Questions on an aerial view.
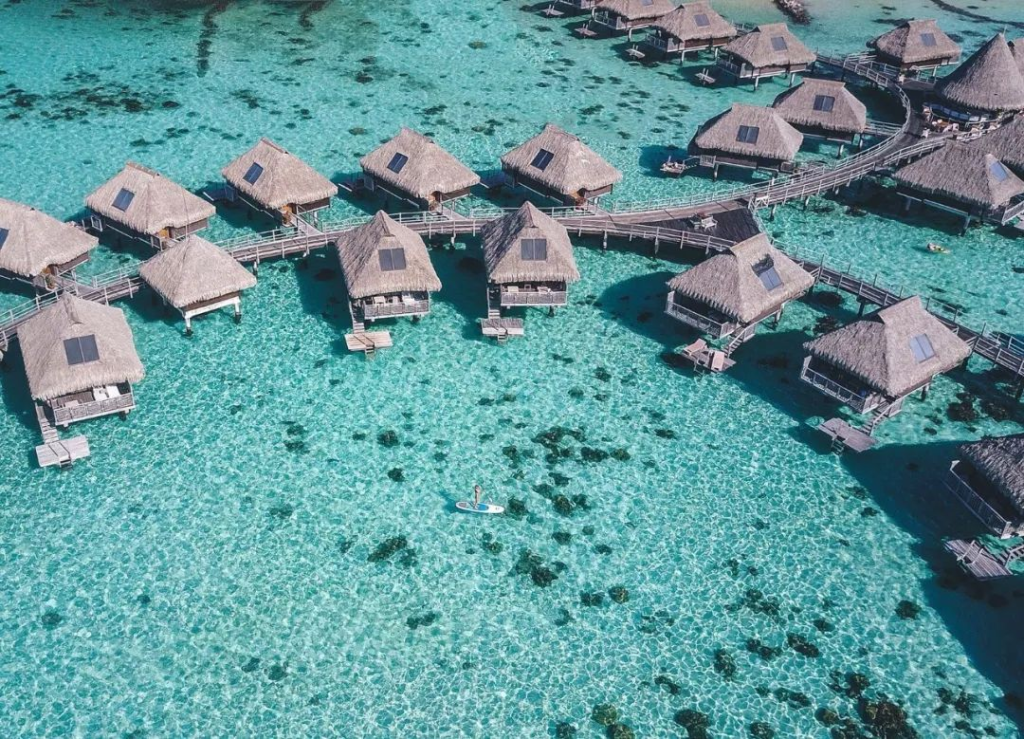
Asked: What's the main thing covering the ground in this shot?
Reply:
water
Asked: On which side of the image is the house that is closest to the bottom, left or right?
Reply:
right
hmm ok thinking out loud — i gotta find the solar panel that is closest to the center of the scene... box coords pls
[521,240,546,261]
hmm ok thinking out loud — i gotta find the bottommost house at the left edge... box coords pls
[17,292,150,469]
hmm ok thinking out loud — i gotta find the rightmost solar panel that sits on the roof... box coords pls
[994,163,1015,185]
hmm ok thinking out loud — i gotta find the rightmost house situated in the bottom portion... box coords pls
[945,432,1024,577]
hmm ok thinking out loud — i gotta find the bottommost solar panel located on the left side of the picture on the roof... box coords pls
[65,336,102,367]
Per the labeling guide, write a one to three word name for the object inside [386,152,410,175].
solar panel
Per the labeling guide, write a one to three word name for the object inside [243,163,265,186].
solar panel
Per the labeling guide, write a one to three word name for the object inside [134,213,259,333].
building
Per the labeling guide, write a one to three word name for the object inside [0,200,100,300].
house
